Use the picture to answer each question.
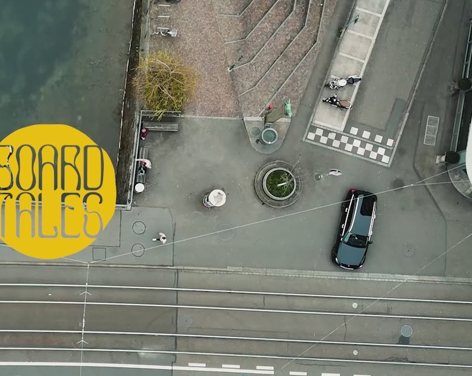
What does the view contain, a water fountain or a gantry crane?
water fountain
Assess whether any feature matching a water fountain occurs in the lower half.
No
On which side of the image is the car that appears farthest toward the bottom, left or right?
right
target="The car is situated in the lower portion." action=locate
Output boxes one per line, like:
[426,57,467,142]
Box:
[334,190,379,268]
